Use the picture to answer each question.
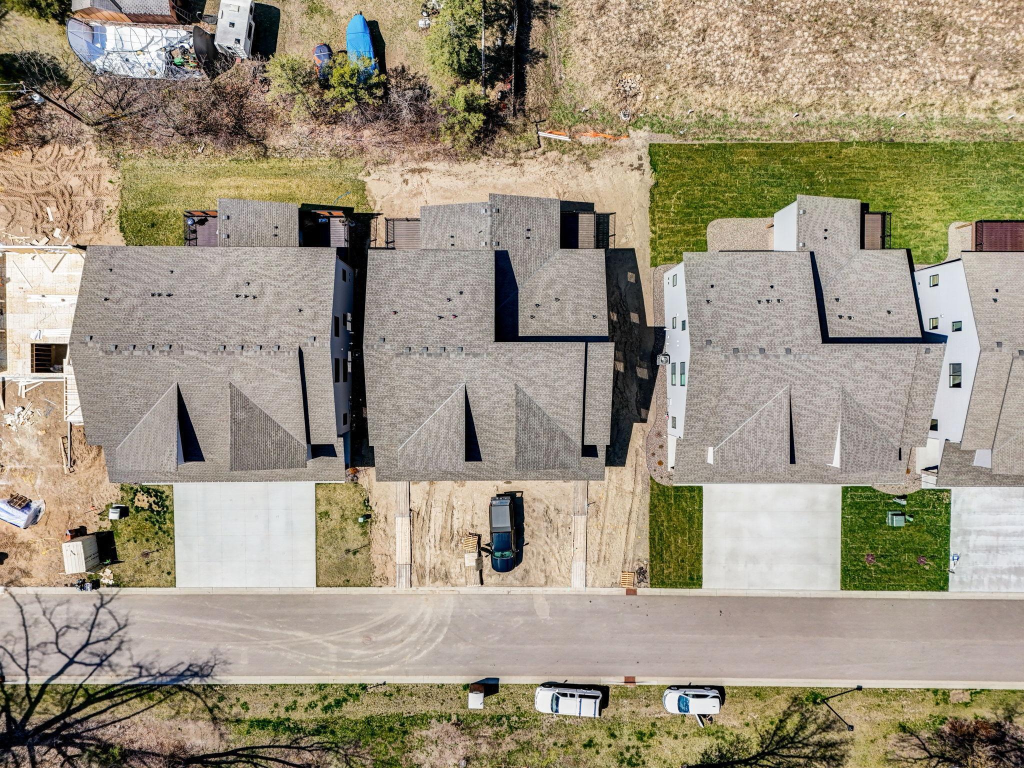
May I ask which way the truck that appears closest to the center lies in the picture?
vertically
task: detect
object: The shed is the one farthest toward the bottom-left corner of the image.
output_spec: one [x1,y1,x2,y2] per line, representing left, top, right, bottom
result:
[61,535,99,575]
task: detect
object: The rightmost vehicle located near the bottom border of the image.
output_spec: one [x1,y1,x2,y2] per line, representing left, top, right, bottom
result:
[667,690,722,730]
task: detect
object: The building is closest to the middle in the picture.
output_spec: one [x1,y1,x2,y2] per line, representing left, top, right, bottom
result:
[363,193,615,482]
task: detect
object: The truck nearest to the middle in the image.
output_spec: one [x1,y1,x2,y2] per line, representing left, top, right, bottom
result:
[478,493,519,573]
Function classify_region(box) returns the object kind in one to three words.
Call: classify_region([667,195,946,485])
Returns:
house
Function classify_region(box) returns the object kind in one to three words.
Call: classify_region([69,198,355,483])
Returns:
house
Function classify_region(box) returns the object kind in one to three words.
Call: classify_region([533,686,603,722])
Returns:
truck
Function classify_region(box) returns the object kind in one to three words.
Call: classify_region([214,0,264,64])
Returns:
camper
